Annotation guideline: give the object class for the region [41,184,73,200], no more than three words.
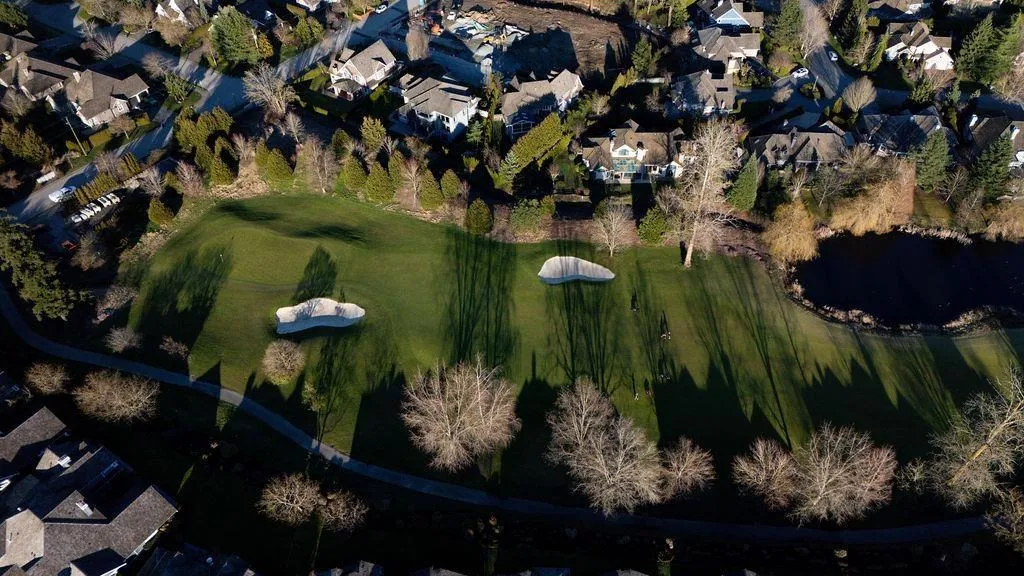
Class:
vehicle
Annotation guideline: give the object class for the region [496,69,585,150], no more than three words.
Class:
house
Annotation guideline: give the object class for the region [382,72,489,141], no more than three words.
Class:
house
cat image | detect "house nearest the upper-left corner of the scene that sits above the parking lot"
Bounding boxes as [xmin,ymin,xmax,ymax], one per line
[0,28,61,77]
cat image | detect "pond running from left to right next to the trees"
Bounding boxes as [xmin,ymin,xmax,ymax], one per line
[798,233,1024,329]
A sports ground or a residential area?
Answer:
residential area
